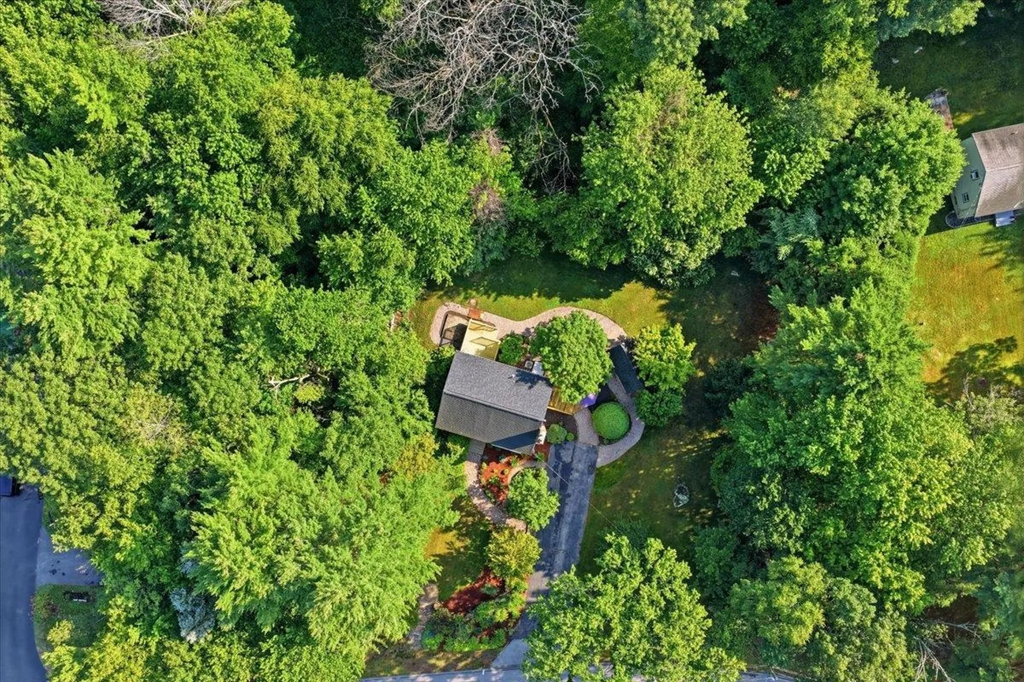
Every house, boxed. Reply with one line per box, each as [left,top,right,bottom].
[434,350,555,458]
[949,125,1024,220]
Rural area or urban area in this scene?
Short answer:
rural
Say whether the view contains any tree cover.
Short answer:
Yes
